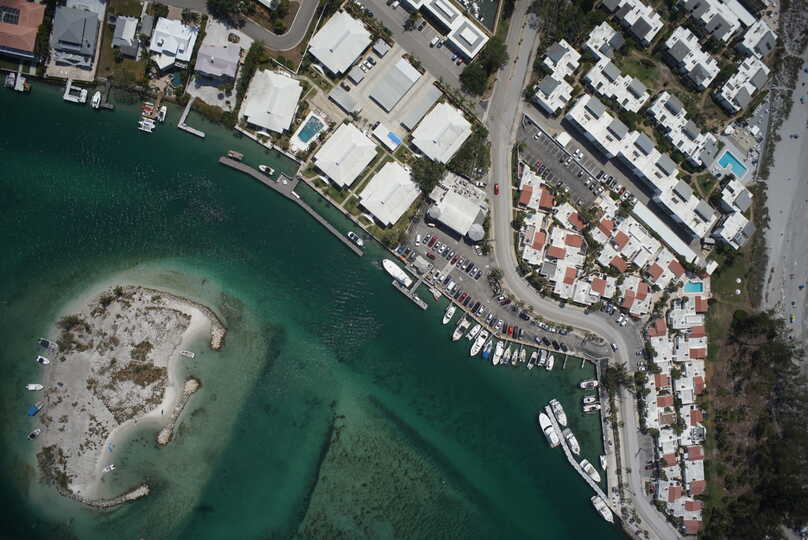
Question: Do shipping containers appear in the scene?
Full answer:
No, there is no shipping container in the image.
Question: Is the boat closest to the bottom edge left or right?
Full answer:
The boat closest to the bottom edge sits on the right side.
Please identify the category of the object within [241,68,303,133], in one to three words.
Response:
building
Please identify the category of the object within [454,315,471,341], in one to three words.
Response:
boat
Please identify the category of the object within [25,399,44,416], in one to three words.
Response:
boat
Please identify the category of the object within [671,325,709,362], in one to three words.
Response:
house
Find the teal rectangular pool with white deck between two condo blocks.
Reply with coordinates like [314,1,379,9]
[296,114,325,143]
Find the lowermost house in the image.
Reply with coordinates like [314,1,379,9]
[664,497,704,535]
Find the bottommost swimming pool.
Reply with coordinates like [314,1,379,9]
[683,280,705,293]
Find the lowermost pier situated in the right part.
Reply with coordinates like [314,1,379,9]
[544,404,609,503]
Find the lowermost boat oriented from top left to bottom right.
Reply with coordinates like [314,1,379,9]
[589,493,614,525]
